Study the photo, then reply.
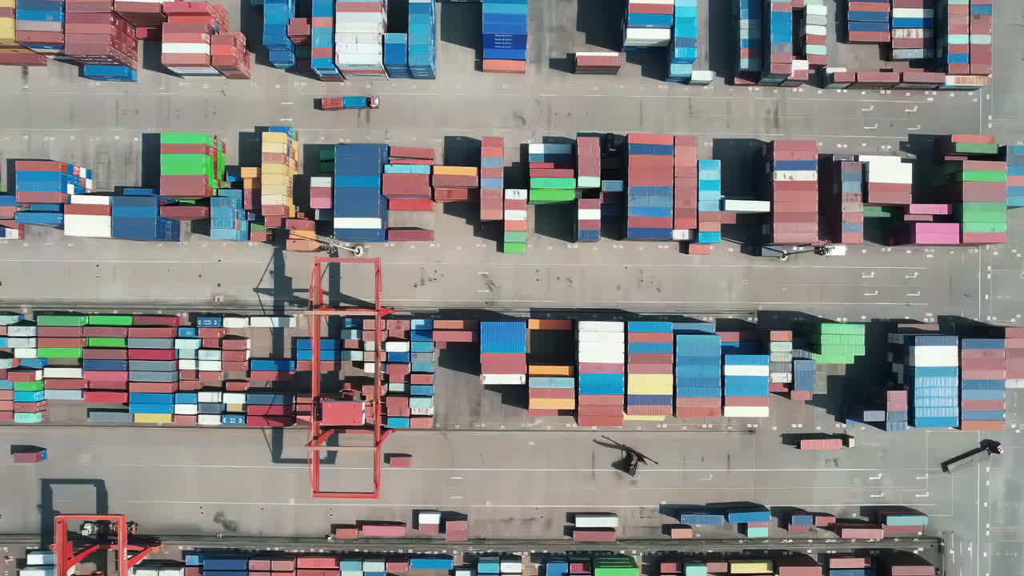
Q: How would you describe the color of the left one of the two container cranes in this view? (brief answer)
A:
red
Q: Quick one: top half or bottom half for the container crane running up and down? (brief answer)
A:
bottom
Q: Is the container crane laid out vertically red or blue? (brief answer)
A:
red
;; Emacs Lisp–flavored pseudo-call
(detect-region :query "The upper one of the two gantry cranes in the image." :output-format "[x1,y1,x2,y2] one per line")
[303,258,396,498]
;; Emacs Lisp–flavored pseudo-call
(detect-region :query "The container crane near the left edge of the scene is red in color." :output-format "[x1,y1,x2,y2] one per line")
[40,513,163,576]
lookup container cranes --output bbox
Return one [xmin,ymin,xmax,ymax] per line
[303,258,396,498]
[40,513,163,576]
